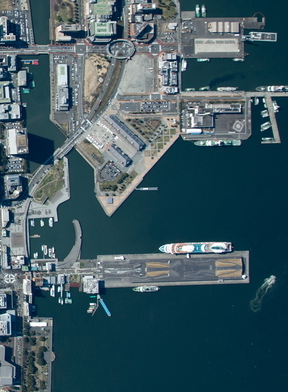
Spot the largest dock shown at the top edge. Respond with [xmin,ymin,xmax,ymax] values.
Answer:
[180,11,265,58]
